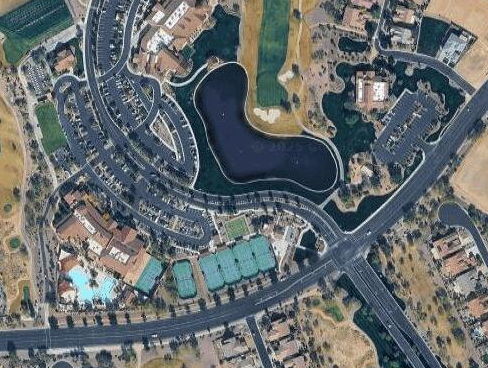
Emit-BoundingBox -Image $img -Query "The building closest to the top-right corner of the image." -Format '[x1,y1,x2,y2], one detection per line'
[440,29,470,62]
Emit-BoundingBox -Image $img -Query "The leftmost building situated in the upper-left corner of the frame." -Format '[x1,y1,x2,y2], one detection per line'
[52,47,75,73]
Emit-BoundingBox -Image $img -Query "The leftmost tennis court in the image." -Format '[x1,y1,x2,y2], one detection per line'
[138,258,162,294]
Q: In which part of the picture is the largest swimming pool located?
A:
bottom left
